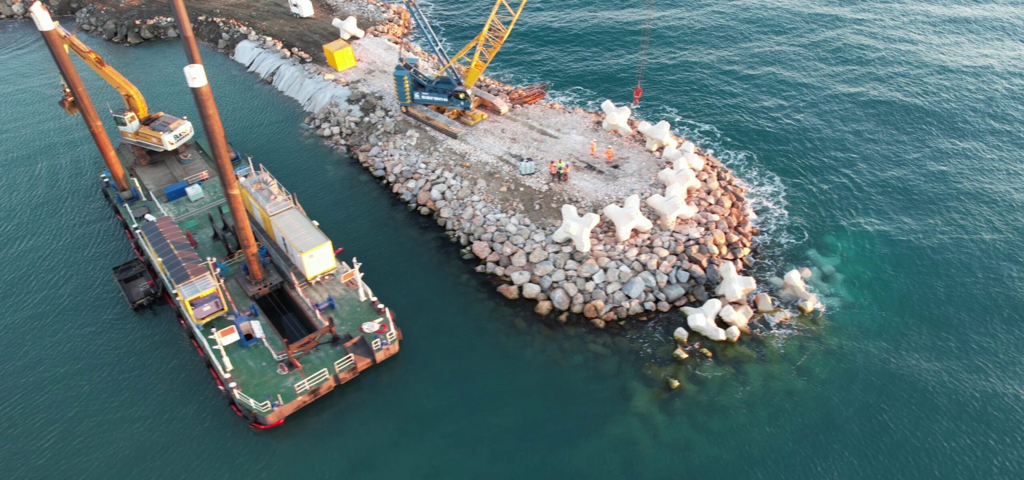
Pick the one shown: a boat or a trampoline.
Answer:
boat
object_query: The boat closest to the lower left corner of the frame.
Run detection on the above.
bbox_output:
[113,253,164,315]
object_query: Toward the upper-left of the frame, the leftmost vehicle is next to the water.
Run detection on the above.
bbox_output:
[49,11,189,167]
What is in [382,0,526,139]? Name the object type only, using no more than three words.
crane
